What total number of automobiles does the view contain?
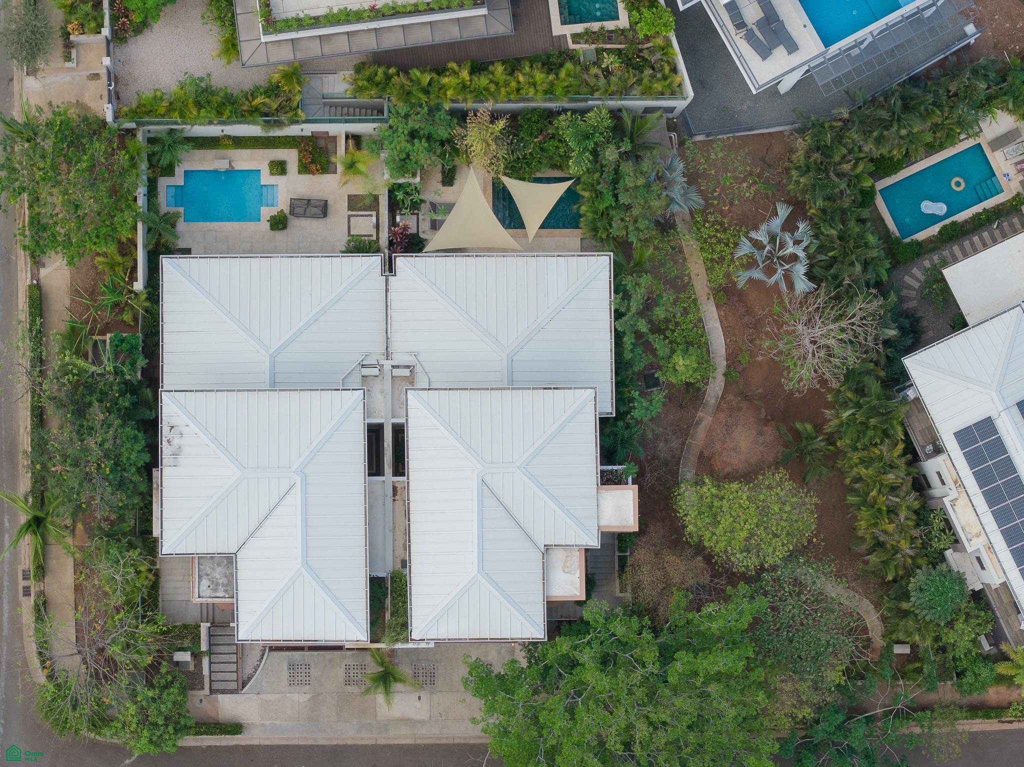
0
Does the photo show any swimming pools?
Yes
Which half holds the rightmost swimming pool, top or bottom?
top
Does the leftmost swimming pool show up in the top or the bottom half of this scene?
top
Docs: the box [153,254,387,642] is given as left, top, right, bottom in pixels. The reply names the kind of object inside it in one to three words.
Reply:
house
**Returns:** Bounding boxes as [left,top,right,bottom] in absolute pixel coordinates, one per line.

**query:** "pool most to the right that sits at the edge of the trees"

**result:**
[870,134,1012,240]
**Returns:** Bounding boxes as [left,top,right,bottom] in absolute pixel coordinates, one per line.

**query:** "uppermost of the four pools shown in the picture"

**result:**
[550,0,628,35]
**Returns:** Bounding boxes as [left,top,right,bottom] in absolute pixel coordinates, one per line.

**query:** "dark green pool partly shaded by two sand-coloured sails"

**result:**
[484,168,589,238]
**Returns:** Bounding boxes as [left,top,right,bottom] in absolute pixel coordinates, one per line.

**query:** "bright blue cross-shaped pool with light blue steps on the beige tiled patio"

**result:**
[158,162,287,231]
